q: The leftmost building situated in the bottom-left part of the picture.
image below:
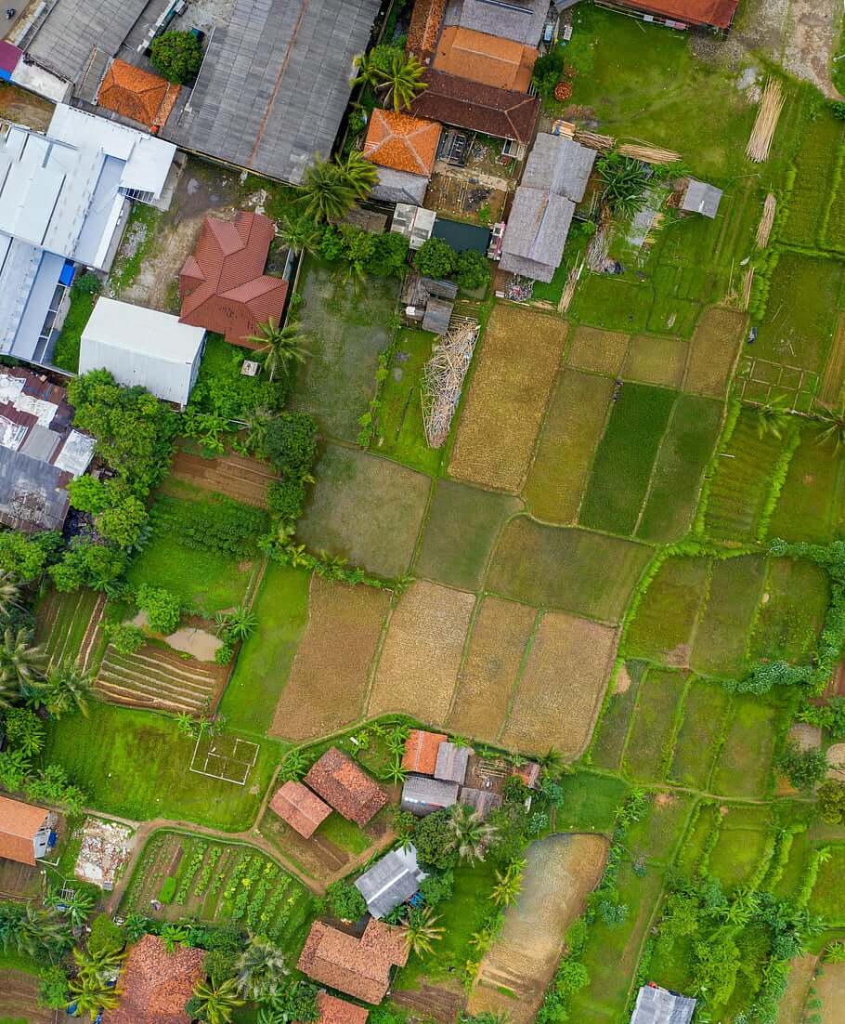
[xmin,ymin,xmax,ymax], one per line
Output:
[0,791,55,864]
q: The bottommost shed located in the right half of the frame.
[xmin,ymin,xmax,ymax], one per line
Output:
[627,979,695,1024]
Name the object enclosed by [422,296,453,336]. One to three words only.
shed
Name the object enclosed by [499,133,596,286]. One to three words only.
barn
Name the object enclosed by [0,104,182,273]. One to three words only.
building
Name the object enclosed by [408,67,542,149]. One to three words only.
house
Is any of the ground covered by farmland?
Yes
